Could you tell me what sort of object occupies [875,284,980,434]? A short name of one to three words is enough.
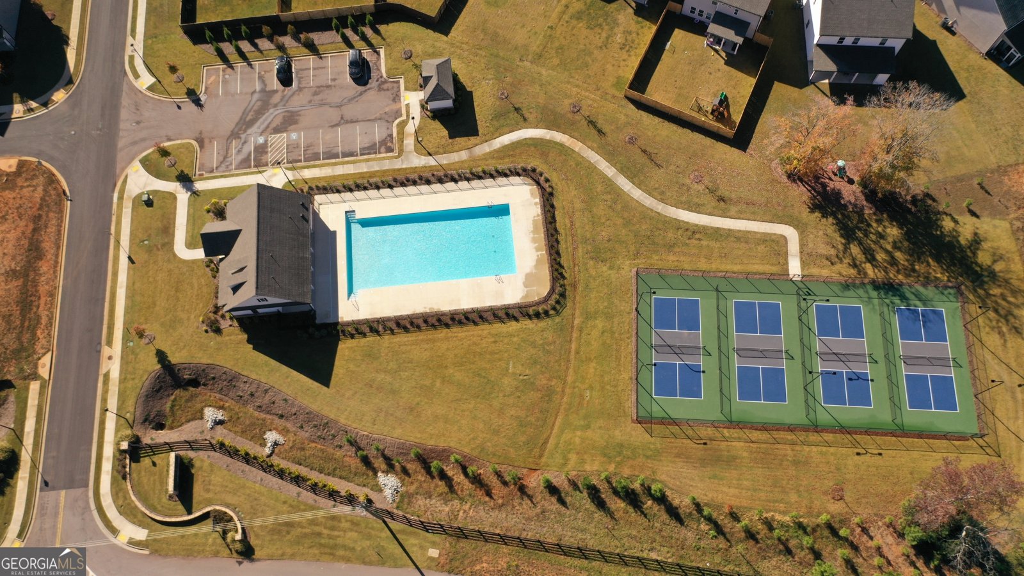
sports court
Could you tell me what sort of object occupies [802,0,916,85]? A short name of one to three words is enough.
house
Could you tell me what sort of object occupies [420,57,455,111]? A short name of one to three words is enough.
building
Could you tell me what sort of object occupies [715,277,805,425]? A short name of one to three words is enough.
sports court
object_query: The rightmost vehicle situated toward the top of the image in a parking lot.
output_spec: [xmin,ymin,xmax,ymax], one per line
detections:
[347,47,363,78]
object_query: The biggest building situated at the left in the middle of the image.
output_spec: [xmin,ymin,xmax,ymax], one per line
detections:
[200,184,313,317]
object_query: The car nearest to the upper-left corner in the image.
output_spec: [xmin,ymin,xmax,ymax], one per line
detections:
[274,54,289,81]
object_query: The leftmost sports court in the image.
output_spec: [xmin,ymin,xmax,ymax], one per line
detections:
[637,273,720,421]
